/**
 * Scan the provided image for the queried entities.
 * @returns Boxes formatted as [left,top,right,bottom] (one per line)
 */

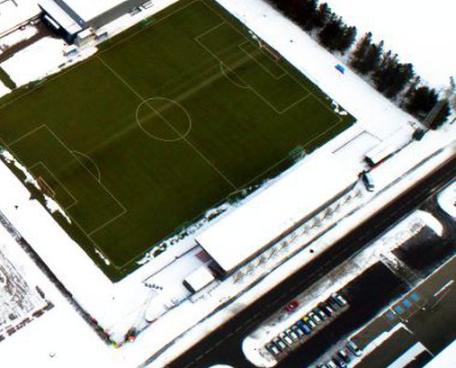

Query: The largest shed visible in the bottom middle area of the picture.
[182,267,215,295]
